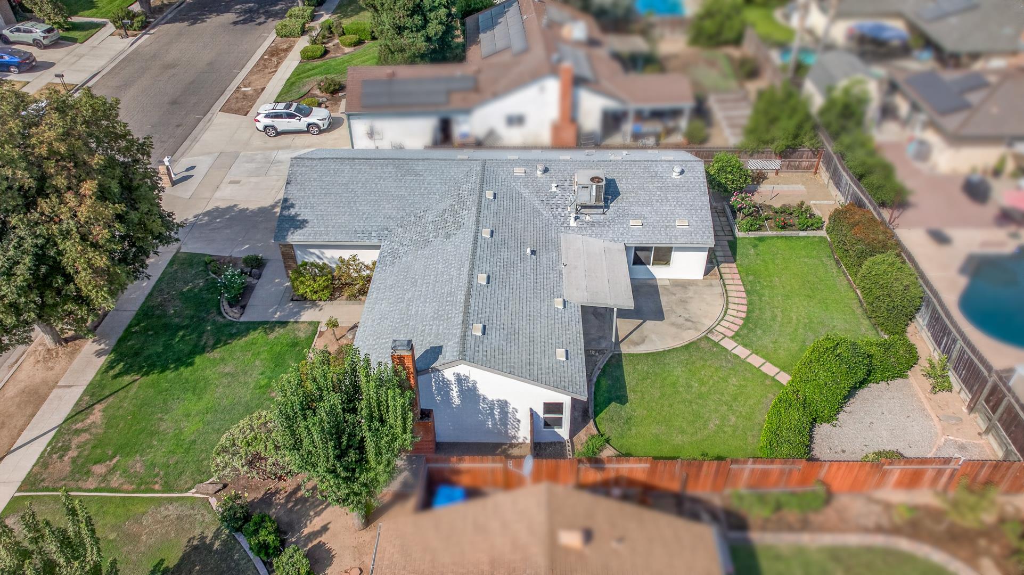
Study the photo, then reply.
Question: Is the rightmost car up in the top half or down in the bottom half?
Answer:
top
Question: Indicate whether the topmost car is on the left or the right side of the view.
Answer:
left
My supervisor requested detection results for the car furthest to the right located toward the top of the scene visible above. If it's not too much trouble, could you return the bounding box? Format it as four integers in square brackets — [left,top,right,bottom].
[254,100,332,137]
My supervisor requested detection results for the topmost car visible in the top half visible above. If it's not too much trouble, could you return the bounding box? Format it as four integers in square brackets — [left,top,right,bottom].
[0,17,60,45]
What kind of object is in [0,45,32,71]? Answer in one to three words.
car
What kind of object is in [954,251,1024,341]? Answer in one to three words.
swimming pool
